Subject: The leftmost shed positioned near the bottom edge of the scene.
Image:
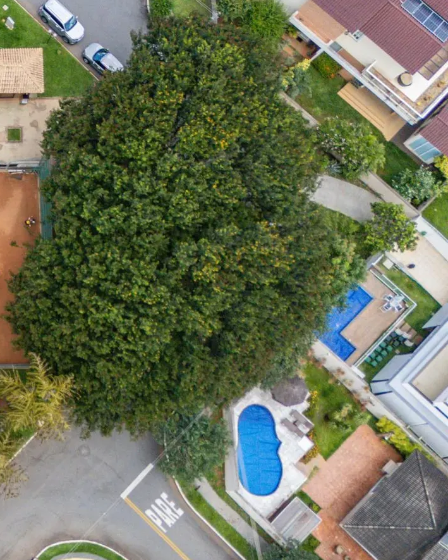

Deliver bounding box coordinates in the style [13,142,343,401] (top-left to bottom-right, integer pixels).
[270,496,322,543]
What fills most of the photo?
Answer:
trees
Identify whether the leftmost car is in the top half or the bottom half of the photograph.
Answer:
top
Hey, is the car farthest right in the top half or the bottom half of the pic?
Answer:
top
